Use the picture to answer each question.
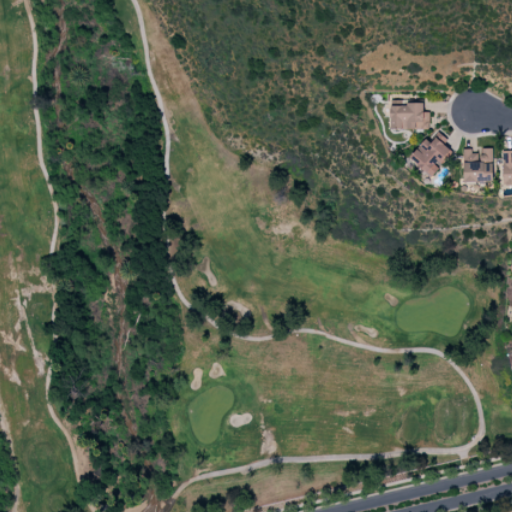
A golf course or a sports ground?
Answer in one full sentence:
The picture captures a golf course.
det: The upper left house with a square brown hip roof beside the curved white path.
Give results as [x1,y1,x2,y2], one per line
[390,99,431,129]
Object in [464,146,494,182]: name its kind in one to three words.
house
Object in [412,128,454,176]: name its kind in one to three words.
house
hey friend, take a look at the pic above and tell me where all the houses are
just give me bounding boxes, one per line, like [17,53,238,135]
[504,150,512,186]
[412,128,454,176]
[464,146,494,182]
[390,99,431,129]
